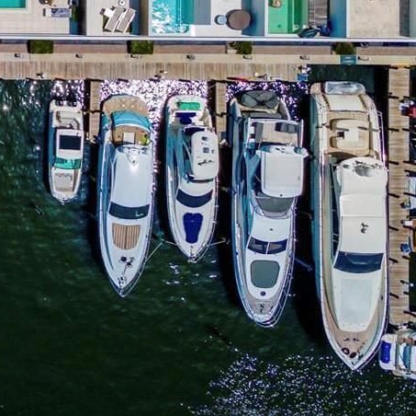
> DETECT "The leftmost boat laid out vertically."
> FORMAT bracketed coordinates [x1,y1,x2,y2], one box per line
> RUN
[48,95,86,205]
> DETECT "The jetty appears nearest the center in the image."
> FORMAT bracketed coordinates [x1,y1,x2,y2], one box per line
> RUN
[209,82,228,139]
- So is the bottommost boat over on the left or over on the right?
right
